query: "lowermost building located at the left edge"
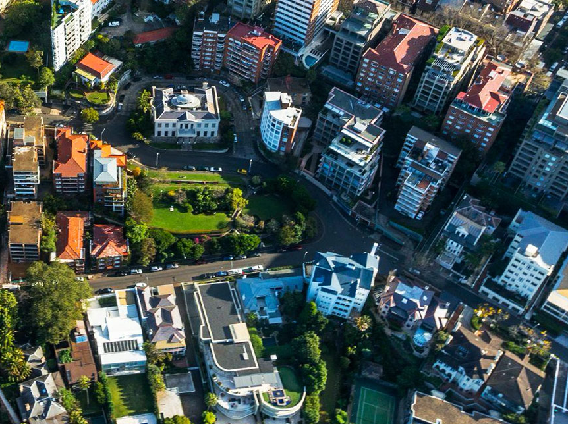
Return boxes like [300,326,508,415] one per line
[15,371,70,424]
